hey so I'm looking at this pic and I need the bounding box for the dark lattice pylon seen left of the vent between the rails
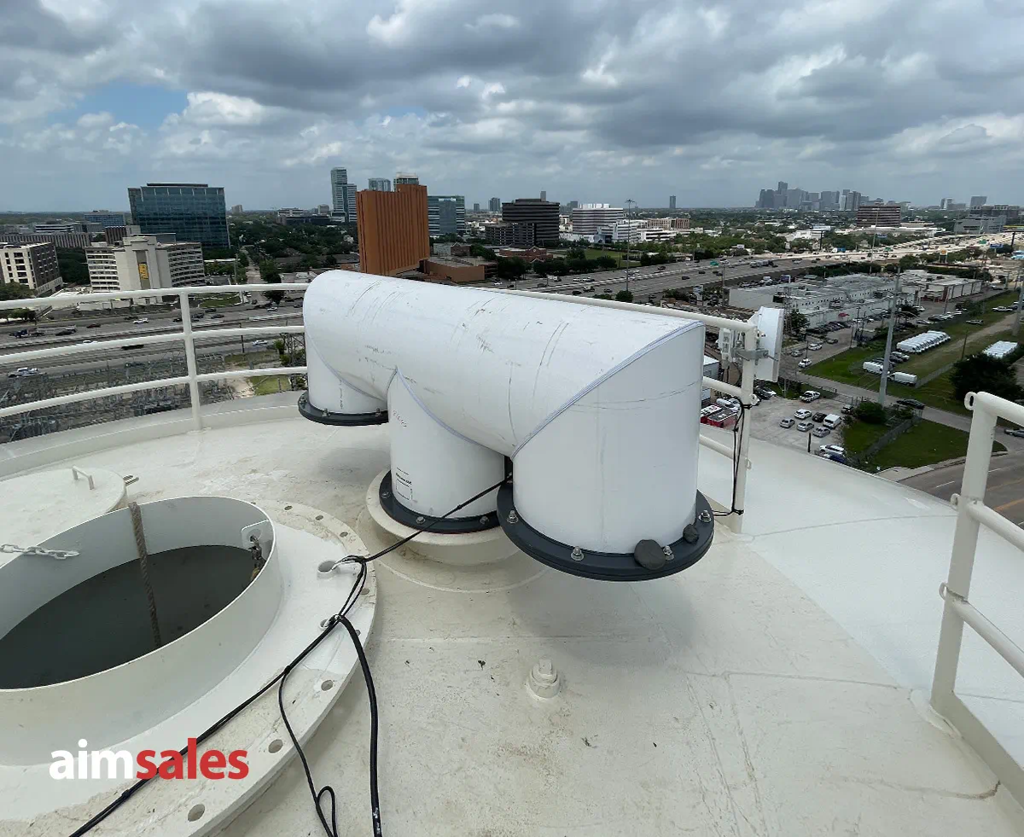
[281,339,297,387]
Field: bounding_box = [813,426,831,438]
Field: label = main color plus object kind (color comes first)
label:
gray vehicle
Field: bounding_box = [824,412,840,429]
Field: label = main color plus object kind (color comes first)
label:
white vehicle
